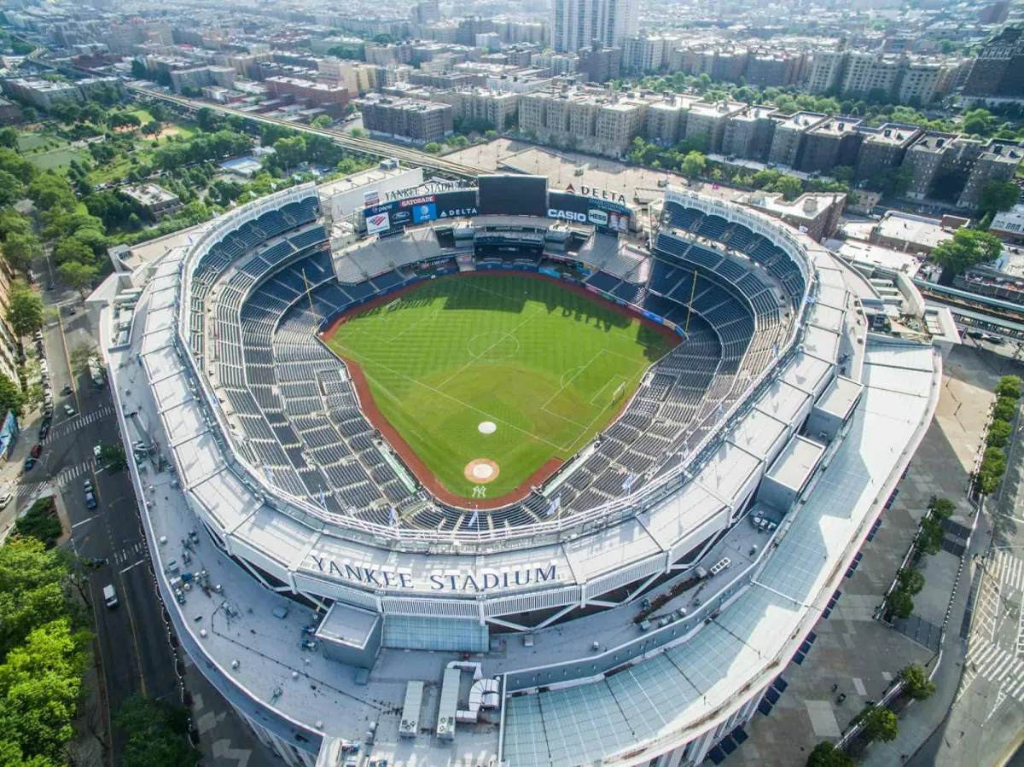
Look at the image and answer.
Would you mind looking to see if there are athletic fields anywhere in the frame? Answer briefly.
Yes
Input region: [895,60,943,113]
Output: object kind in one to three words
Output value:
building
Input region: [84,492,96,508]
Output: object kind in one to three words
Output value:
vehicle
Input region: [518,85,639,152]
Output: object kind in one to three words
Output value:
building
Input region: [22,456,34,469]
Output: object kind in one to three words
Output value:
vehicle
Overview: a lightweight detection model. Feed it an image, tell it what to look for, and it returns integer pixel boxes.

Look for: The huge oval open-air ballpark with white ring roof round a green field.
[85,157,962,767]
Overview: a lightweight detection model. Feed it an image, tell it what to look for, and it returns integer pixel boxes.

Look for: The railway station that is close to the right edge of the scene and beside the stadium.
[911,256,1024,351]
